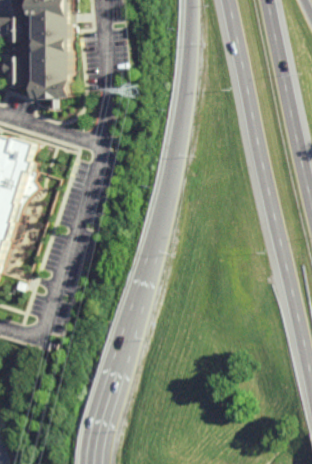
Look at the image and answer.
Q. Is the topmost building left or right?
left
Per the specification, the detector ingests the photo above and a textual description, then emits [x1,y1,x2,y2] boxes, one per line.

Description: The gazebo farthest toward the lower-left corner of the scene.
[16,280,30,292]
